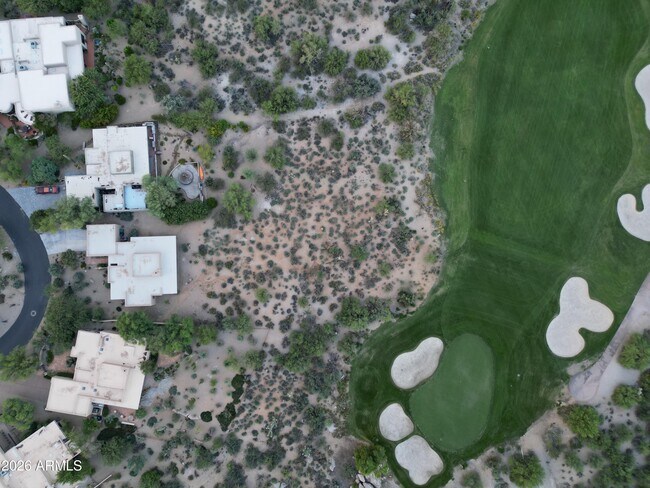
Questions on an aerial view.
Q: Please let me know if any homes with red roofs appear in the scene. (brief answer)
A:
No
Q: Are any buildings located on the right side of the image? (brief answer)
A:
No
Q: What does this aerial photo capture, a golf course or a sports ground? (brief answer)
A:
golf course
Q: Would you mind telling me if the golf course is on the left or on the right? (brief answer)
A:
right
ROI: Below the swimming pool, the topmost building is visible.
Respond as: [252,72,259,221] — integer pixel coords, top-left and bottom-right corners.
[86,224,182,307]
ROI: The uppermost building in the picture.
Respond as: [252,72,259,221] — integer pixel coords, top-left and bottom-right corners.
[0,16,92,128]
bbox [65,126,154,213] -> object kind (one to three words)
house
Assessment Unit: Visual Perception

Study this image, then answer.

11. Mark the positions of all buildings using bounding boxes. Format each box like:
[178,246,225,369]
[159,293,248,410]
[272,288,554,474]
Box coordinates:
[0,16,92,128]
[65,126,154,213]
[46,328,155,417]
[86,224,182,307]
[0,416,76,488]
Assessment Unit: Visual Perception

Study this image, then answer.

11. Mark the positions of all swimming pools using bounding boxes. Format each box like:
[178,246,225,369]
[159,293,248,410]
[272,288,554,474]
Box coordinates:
[128,186,146,209]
